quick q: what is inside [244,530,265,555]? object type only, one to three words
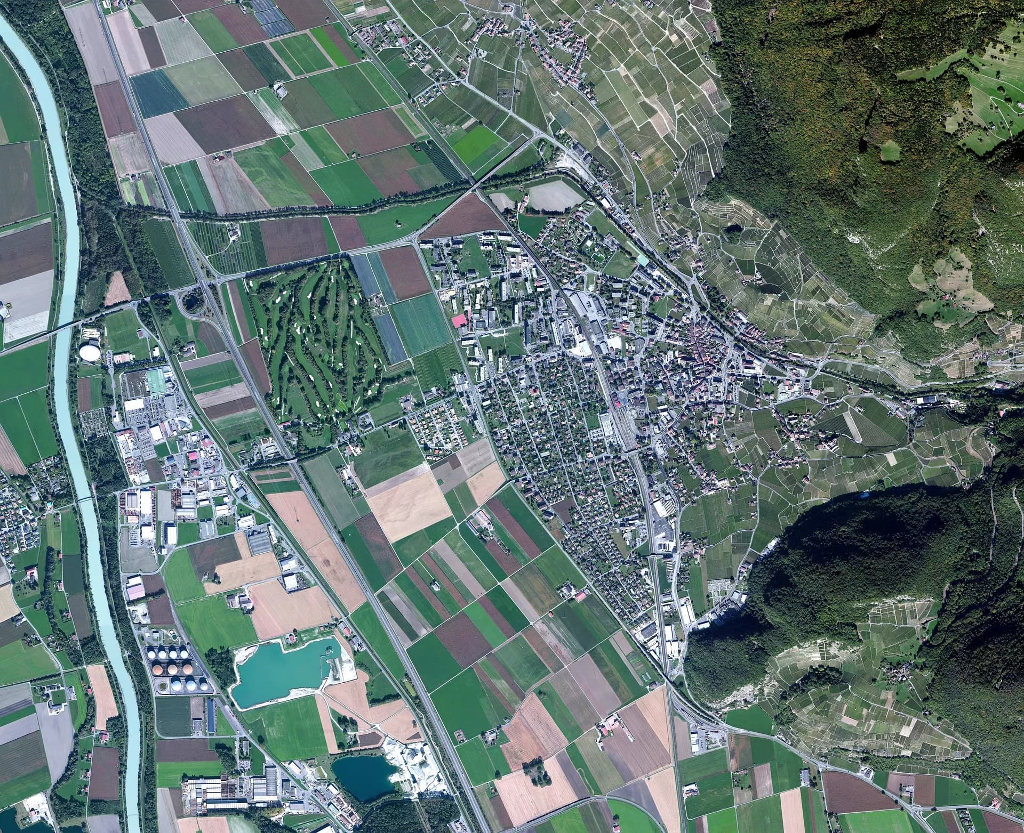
building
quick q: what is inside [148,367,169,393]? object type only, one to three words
building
